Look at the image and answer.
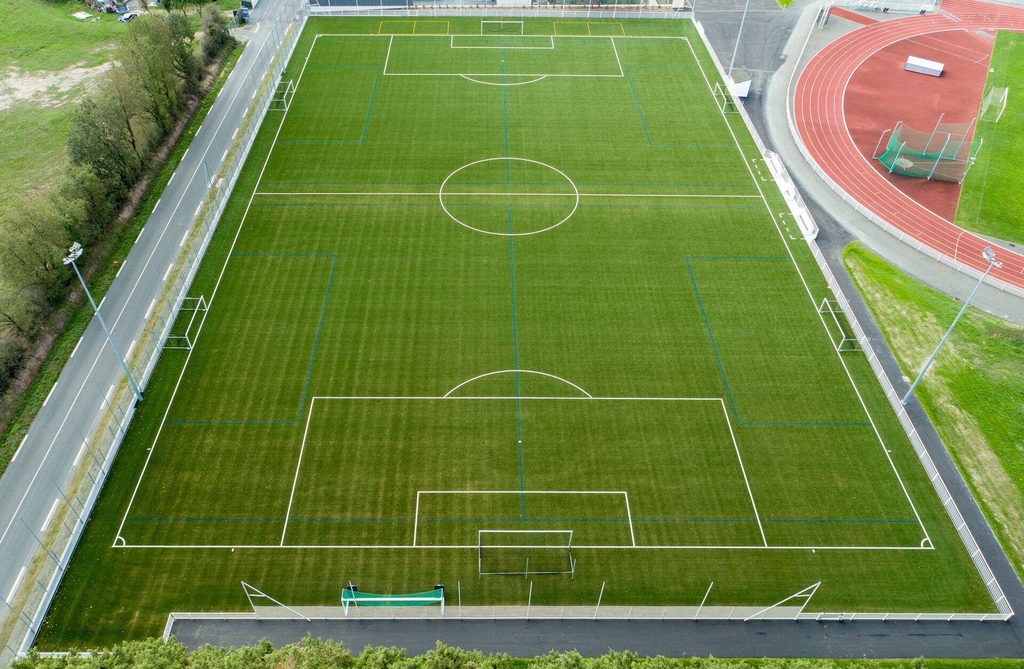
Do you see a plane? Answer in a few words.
No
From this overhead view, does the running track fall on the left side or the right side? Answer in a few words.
right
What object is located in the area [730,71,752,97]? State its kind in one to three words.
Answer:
shed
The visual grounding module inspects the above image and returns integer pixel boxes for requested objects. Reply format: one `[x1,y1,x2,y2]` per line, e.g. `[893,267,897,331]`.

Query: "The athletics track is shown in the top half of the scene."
[794,13,1024,285]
